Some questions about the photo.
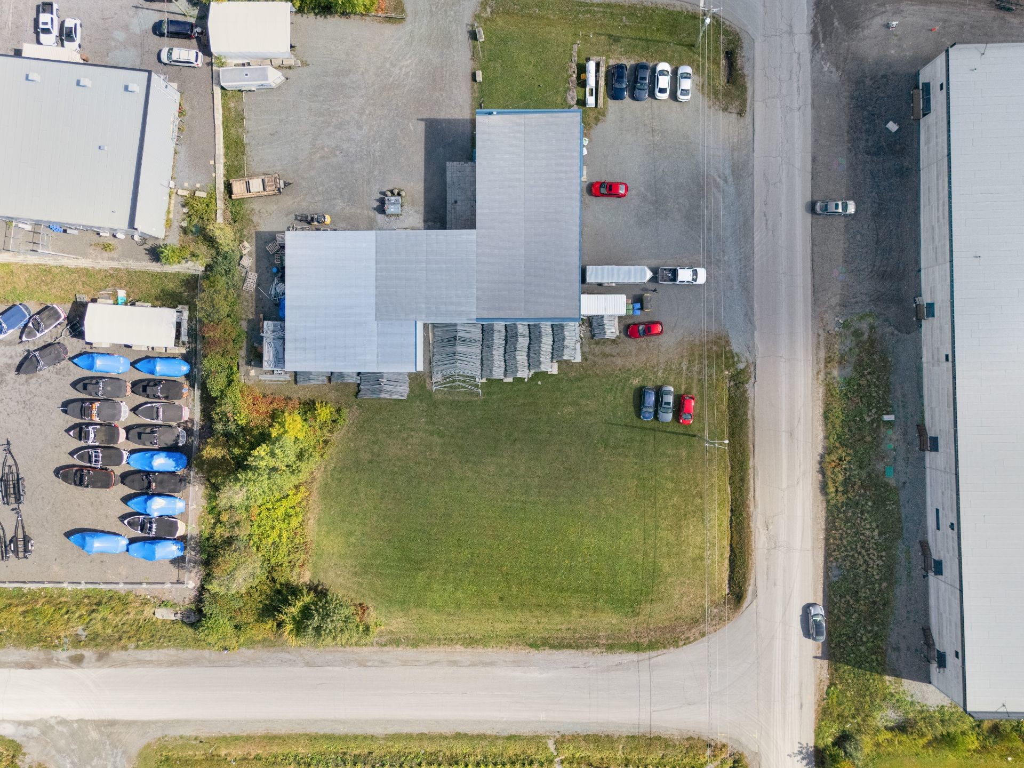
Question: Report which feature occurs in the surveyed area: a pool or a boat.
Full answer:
Of the two, only a boat appears.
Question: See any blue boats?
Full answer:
Yes, the photo shows a blue boat.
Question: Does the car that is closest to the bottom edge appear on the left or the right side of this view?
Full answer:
It is on the right.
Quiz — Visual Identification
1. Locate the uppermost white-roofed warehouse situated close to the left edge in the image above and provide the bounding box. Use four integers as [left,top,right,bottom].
[0,56,180,241]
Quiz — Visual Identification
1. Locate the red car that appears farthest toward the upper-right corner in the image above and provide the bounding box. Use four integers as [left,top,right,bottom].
[591,180,628,199]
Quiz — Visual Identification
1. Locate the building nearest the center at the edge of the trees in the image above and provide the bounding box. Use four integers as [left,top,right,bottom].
[285,110,584,372]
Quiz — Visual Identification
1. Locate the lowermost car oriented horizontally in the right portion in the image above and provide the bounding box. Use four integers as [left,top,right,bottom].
[626,321,664,339]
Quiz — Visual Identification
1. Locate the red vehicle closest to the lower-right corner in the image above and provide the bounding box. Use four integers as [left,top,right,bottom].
[678,392,696,425]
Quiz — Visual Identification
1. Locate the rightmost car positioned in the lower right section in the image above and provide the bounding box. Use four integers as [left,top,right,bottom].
[805,601,825,643]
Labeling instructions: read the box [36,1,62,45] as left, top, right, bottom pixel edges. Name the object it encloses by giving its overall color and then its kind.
white truck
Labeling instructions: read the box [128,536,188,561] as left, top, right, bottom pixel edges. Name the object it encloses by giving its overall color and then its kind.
blue boat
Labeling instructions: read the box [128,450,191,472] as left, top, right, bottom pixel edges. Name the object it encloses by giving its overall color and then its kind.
blue boat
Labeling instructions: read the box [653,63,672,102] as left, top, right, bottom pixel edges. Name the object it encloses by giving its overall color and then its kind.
white car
